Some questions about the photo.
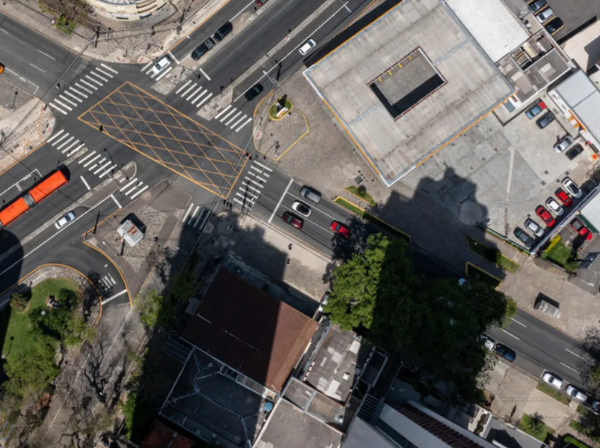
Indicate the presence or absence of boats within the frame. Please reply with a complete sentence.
No, no boat can be seen from above.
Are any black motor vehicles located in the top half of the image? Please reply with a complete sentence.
Yes, a black motor vehicle is visible in the top half of the image.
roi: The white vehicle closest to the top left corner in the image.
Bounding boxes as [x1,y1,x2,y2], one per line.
[150,54,175,76]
